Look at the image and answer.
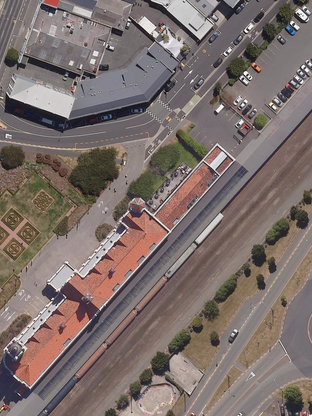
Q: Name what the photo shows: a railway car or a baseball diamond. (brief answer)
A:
railway car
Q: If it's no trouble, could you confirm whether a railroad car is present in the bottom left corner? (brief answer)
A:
Yes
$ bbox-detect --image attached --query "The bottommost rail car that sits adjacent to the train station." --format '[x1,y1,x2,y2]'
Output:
[45,376,76,412]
